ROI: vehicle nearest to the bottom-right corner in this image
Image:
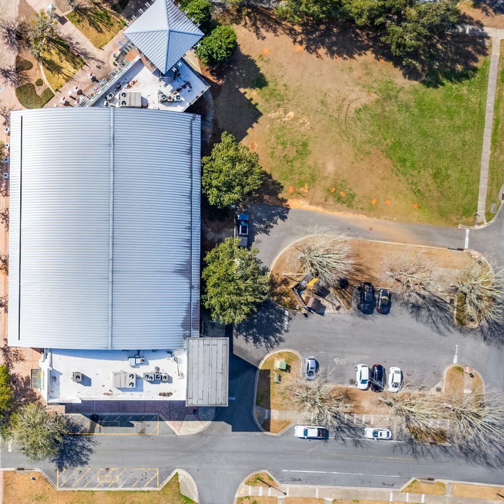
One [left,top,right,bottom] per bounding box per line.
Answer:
[364,428,392,441]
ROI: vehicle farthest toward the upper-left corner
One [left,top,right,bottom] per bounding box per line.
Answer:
[235,212,250,247]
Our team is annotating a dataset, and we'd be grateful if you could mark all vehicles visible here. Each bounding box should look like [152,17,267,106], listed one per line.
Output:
[386,367,401,393]
[358,283,374,314]
[376,288,391,314]
[355,363,369,391]
[370,364,385,392]
[295,425,328,440]
[364,428,392,441]
[235,212,250,247]
[304,356,319,381]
